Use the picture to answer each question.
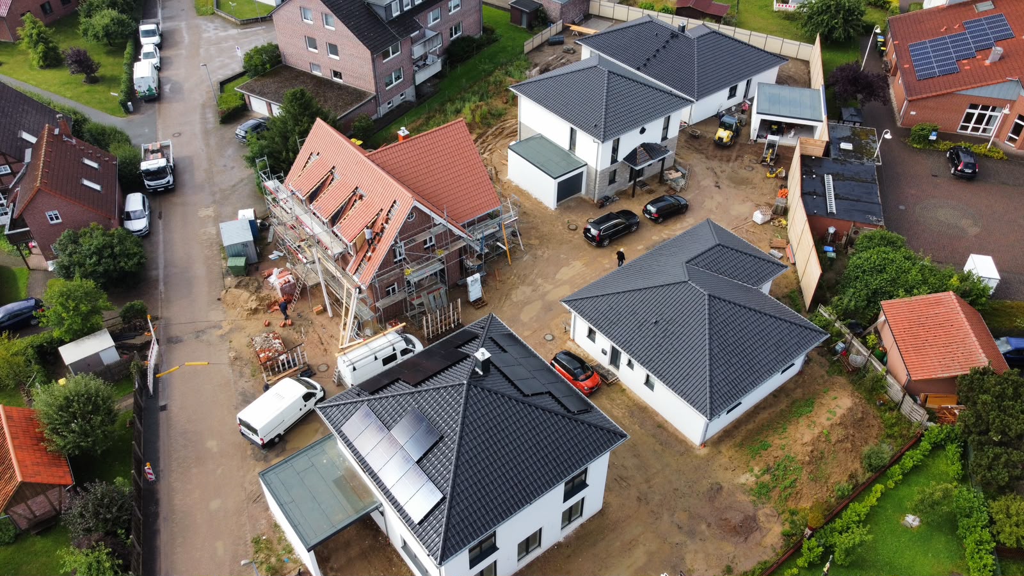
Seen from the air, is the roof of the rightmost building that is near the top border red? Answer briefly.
Yes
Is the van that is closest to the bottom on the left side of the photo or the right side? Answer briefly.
left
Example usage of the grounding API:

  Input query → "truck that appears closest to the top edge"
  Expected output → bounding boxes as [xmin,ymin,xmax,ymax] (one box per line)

[139,15,162,44]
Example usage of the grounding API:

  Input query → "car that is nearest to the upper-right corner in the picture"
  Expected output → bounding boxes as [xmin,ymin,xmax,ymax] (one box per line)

[944,142,983,174]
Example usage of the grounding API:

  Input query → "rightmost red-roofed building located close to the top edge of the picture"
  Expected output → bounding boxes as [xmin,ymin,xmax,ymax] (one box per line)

[882,0,1024,155]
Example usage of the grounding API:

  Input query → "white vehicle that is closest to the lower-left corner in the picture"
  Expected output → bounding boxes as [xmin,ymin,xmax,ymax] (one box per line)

[224,374,333,453]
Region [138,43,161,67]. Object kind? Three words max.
car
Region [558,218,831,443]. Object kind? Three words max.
house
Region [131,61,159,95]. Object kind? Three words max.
van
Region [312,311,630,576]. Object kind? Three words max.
house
